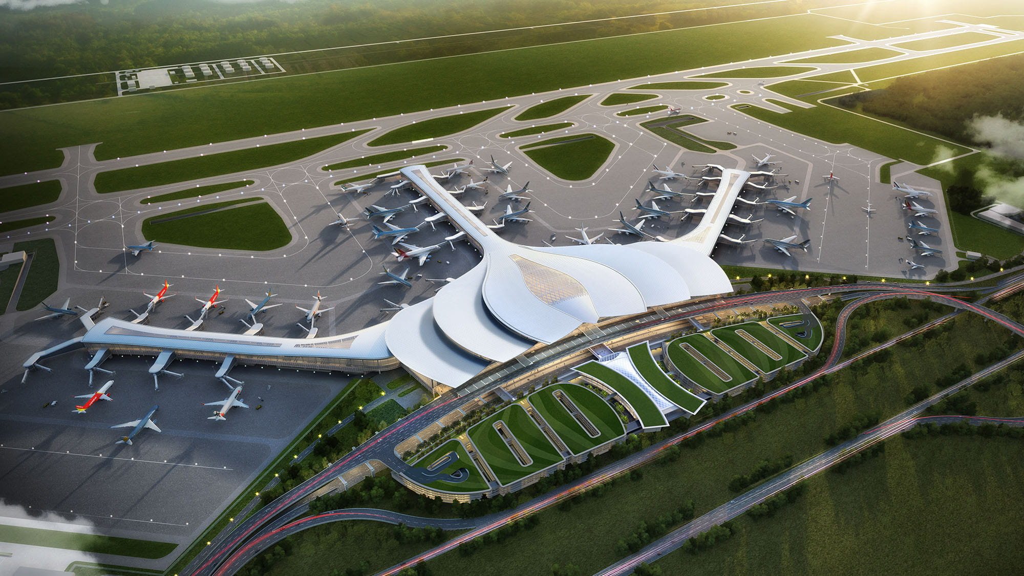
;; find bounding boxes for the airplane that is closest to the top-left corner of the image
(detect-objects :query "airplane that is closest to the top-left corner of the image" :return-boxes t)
[126,240,158,255]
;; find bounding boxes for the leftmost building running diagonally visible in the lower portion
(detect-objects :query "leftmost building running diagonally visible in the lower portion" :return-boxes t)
[463,437,498,492]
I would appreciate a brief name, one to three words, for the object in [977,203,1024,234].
hangar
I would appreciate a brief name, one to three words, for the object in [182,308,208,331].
jet bridge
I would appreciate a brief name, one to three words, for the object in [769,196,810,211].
airplane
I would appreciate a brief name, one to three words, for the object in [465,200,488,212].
jet bridge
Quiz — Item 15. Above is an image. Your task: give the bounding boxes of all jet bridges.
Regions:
[720,233,759,245]
[416,214,446,231]
[485,218,506,231]
[20,339,83,385]
[737,197,771,207]
[438,233,467,252]
[683,192,714,203]
[384,181,409,198]
[82,349,117,389]
[73,296,104,328]
[540,239,553,246]
[730,213,766,225]
[424,278,455,283]
[691,164,723,173]
[213,356,246,393]
[746,181,779,191]
[295,317,318,338]
[603,236,617,245]
[465,200,488,212]
[750,168,789,178]
[447,185,467,195]
[379,298,407,313]
[685,176,721,187]
[147,351,185,392]
[431,170,456,181]
[238,312,265,335]
[182,308,208,331]
[368,172,401,183]
[127,302,155,324]
[670,209,706,221]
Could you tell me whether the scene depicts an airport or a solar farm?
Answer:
airport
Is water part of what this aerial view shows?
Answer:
No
